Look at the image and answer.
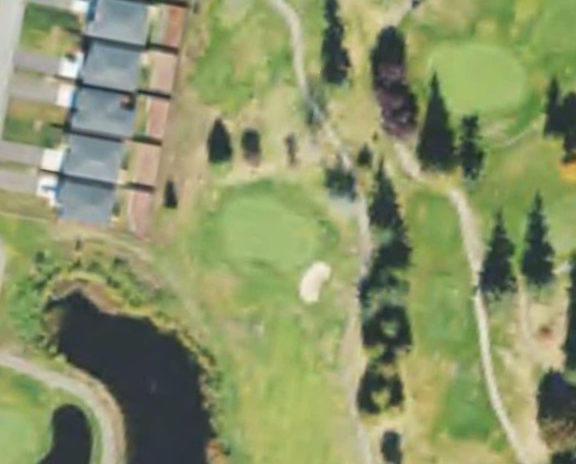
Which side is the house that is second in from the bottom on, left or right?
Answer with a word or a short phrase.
left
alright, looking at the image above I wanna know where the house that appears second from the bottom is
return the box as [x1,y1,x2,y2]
[61,134,122,184]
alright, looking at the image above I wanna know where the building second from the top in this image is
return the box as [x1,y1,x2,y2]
[83,40,145,92]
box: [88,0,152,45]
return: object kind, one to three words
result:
house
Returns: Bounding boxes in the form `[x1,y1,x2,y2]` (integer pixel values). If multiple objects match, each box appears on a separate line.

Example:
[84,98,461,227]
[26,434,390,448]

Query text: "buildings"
[57,179,114,224]
[71,87,137,140]
[88,0,152,45]
[61,134,122,184]
[83,40,145,92]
